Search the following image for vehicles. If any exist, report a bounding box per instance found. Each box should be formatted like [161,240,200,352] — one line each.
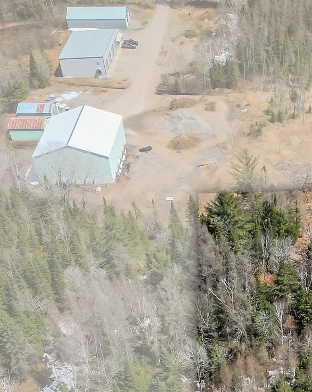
[127,39,138,45]
[122,42,135,49]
